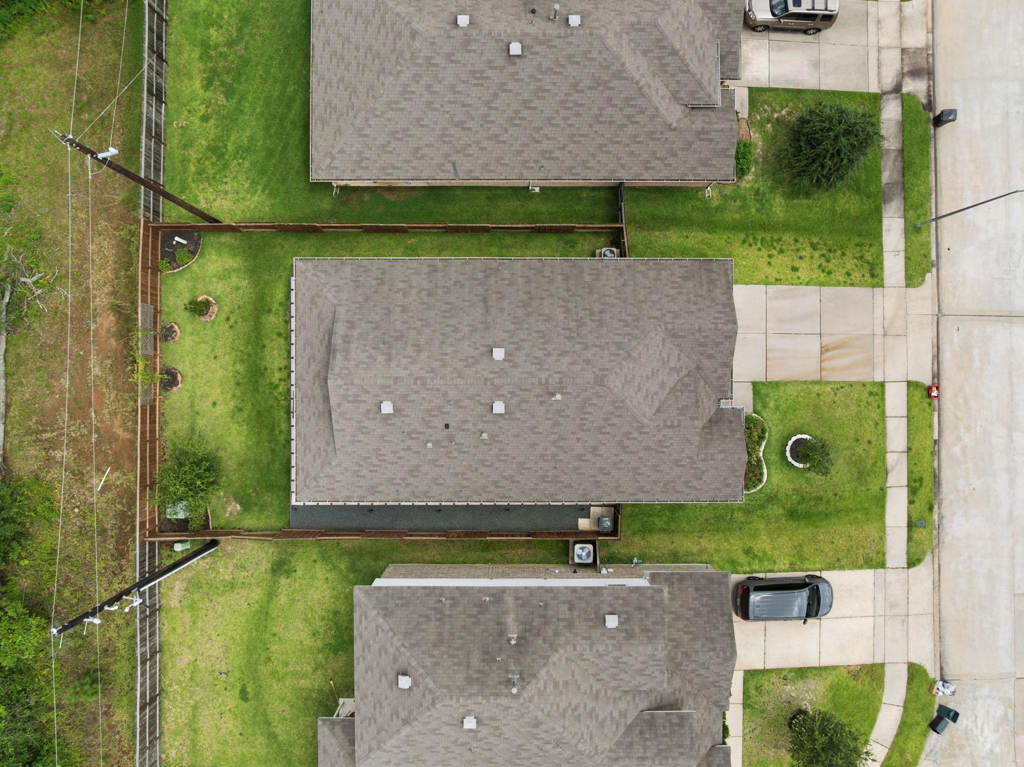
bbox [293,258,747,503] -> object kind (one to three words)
house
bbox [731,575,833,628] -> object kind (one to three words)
car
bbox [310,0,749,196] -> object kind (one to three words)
house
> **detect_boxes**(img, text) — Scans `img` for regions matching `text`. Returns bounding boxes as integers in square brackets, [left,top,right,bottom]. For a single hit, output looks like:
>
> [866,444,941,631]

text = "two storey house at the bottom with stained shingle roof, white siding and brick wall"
[318,556,738,767]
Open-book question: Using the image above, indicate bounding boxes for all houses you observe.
[318,556,738,767]
[310,0,749,196]
[293,258,747,503]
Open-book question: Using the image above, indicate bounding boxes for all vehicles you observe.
[746,0,841,32]
[731,575,833,628]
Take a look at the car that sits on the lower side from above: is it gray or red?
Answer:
gray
